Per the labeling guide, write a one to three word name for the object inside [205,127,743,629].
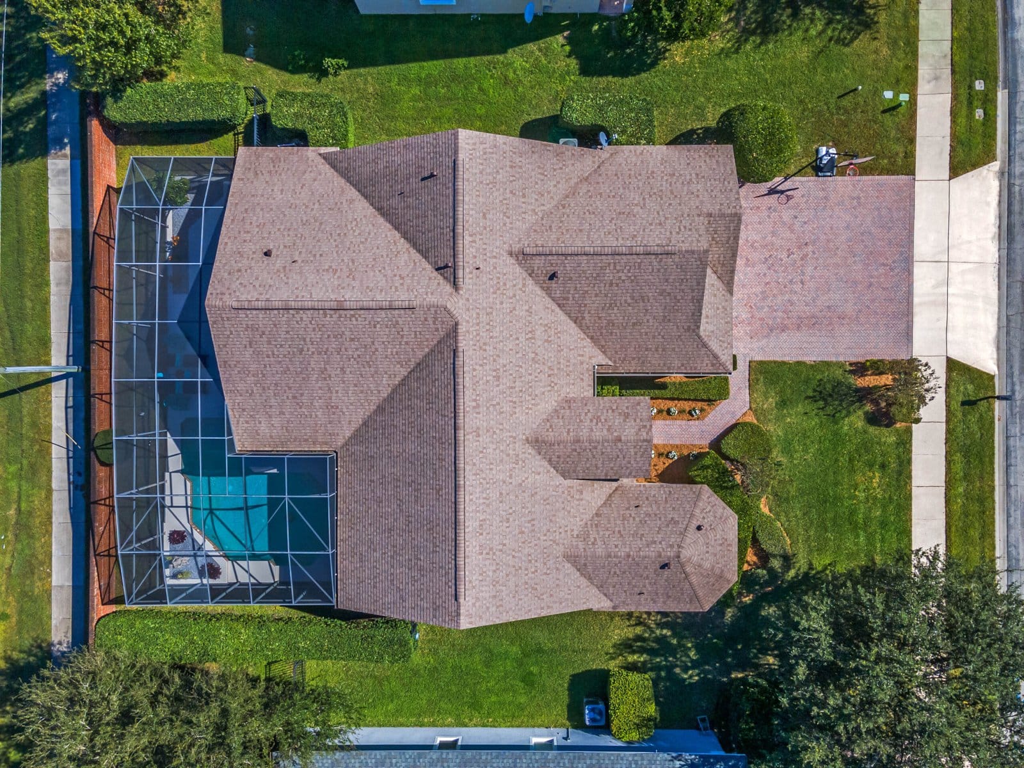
house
